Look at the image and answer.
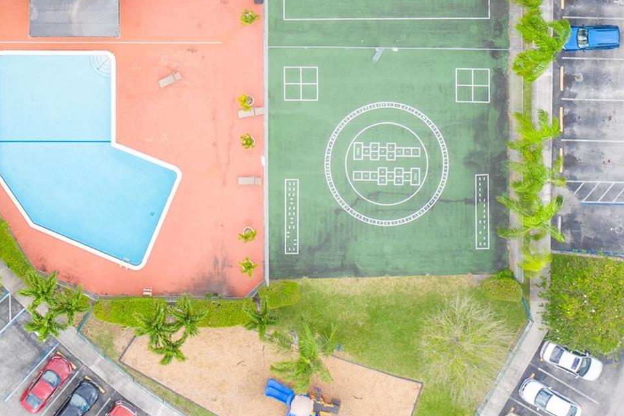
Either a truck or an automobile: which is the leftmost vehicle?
automobile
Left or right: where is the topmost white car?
right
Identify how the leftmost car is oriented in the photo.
on a diagonal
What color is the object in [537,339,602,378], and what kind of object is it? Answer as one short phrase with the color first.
white car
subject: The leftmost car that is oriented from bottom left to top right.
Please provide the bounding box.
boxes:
[20,351,72,413]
